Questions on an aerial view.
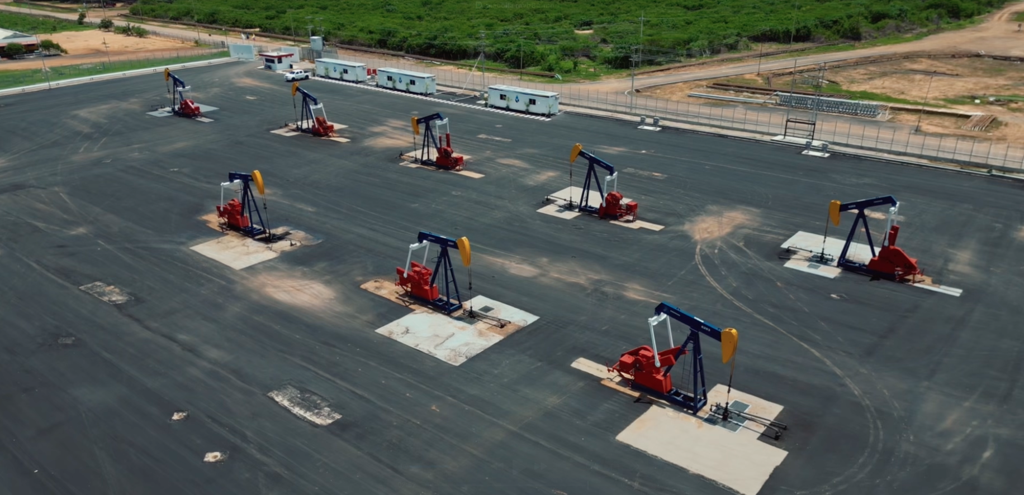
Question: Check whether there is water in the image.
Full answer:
No, the scene doesn't show any water.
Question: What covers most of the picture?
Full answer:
The largest share of the image is taken up by paved ground.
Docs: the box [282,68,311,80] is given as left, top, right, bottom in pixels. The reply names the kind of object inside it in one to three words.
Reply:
vehicle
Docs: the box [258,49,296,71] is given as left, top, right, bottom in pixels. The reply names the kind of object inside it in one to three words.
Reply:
building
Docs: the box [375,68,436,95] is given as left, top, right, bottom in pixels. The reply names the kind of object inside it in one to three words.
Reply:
building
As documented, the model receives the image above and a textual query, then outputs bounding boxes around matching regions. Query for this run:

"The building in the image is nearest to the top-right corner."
[486,85,559,115]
